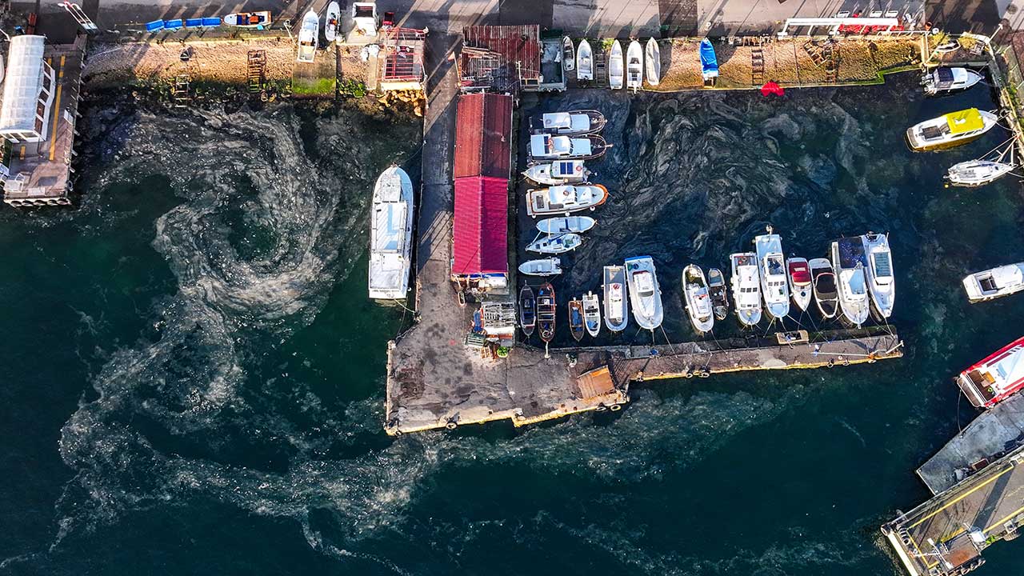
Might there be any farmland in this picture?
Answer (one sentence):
No, the picture contains no farmland.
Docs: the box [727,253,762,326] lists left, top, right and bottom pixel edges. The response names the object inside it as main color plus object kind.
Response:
white boat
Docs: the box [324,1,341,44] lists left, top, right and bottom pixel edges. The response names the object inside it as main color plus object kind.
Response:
white boat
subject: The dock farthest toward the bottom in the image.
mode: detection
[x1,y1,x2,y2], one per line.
[876,448,1024,576]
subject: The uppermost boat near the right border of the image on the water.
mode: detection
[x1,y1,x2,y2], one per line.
[920,69,984,96]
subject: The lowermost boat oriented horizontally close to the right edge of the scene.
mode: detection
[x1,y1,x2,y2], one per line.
[958,265,1024,302]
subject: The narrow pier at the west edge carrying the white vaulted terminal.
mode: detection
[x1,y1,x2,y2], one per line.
[0,44,86,203]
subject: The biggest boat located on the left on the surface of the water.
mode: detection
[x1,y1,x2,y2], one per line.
[368,164,417,305]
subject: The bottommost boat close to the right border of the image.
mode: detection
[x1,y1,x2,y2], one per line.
[955,336,1024,408]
